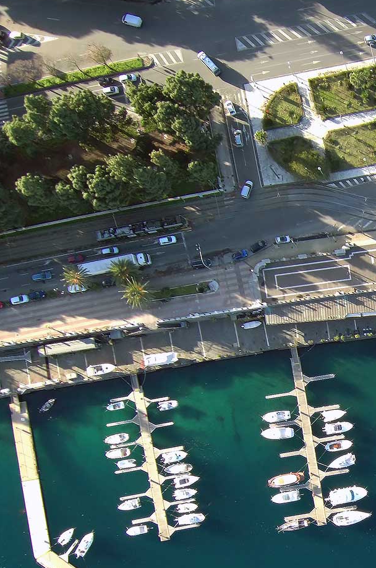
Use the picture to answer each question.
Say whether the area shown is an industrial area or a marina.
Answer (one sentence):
It's a marina.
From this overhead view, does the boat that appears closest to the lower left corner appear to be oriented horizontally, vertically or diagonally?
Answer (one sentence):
Seen from above, the boat that appears closest to the lower left corner lies diagonally.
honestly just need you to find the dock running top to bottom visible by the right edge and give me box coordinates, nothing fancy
[265,348,357,525]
